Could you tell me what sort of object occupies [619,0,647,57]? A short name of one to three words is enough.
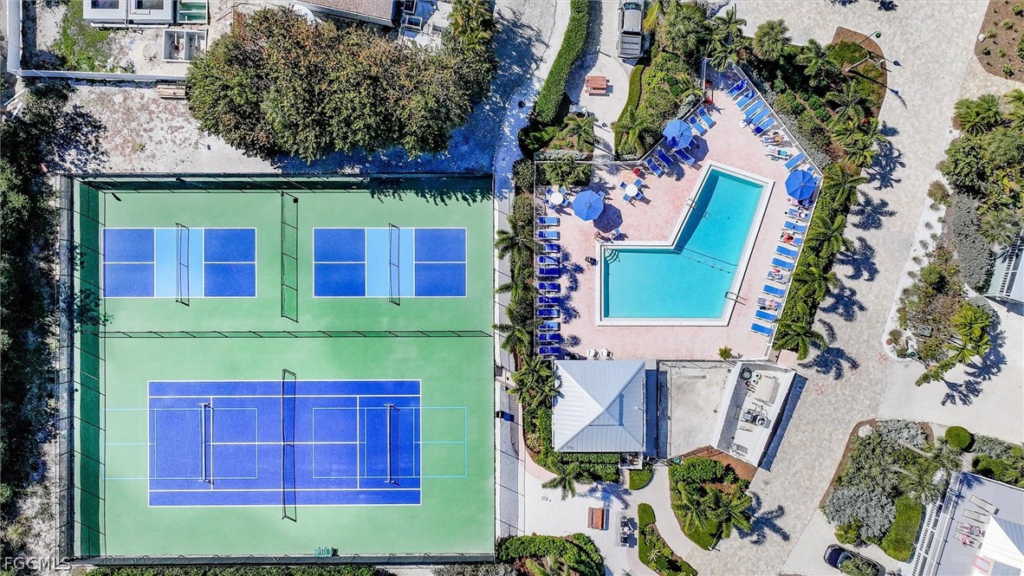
truck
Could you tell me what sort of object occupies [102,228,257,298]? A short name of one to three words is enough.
sports court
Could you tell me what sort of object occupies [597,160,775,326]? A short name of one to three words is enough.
swimming pool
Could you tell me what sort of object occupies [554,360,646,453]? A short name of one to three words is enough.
building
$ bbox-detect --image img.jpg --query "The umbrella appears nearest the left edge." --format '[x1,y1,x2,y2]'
[572,190,604,221]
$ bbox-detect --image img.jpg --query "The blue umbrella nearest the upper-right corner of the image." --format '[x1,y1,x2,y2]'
[784,170,815,201]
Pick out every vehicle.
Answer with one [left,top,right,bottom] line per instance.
[619,0,647,57]
[824,540,882,576]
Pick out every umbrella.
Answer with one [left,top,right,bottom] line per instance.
[661,120,693,151]
[572,190,604,221]
[784,170,815,201]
